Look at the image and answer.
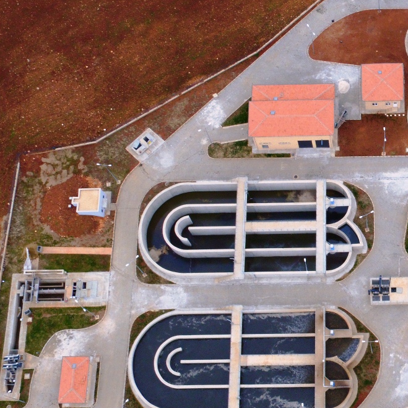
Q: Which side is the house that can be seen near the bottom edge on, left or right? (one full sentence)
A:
The house that can be seen near the bottom edge appears in the left half of the scene.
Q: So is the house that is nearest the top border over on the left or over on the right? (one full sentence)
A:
The house that is nearest the top border appears in the right half of the scene.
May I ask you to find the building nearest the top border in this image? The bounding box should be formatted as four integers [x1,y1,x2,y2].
[361,63,405,113]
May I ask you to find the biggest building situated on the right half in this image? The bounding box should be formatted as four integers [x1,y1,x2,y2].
[247,83,338,158]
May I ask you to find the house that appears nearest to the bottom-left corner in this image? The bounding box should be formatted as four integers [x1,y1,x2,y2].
[58,356,100,408]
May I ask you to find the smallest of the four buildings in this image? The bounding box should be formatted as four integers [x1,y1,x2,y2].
[71,189,112,218]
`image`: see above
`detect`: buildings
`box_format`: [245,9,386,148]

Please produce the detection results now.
[247,83,338,158]
[361,63,405,113]
[71,189,112,218]
[58,356,100,408]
